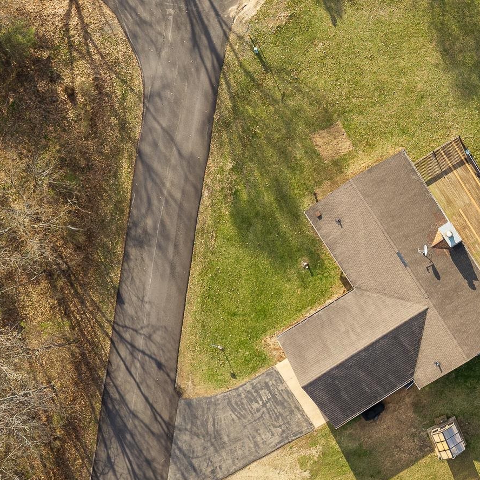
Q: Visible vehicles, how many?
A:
0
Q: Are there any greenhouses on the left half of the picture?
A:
No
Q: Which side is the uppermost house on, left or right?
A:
right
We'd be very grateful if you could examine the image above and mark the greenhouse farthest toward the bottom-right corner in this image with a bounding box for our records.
[429,413,471,460]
